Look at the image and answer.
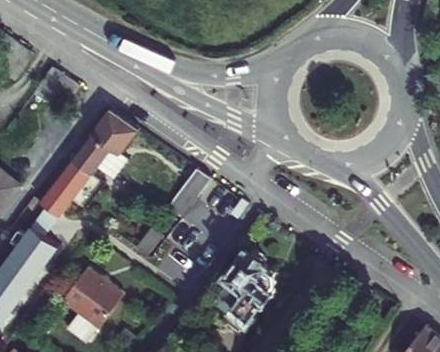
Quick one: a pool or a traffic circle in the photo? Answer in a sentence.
There is a traffic circle in the scene.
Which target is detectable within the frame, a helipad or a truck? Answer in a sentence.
The image shows a truck.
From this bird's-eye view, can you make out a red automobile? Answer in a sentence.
Yes, you can see a red automobile in this photo.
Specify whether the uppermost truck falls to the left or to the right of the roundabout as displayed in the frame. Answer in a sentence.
To the left of the roundabout is where the uppermost truck appears.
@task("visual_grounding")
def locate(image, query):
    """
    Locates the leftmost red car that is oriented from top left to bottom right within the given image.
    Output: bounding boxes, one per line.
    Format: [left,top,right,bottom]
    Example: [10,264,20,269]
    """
[393,260,415,278]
